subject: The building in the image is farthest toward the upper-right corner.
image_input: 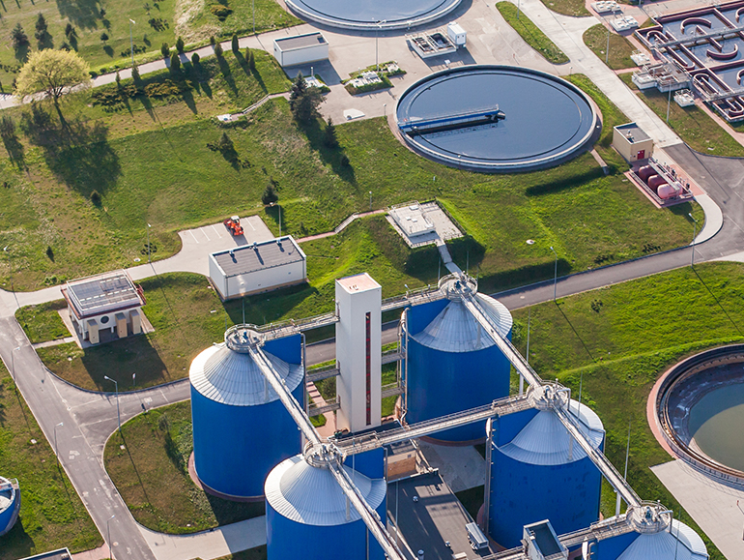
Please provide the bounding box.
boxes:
[610,120,654,164]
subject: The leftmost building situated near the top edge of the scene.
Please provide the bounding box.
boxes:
[270,26,328,66]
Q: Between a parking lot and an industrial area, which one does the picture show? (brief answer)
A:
industrial area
